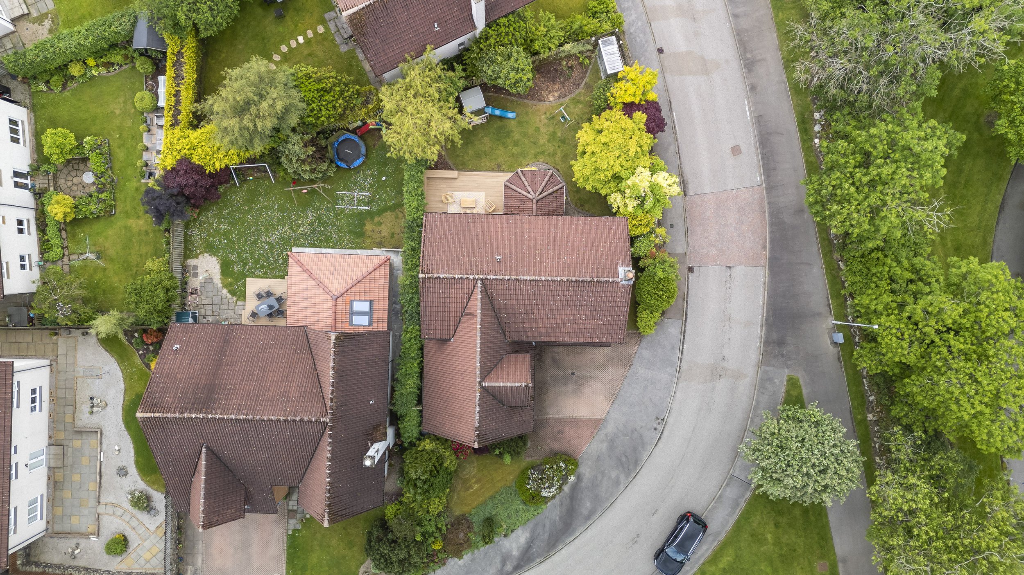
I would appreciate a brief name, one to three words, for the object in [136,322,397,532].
house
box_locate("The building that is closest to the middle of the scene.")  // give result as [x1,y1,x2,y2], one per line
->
[416,168,634,447]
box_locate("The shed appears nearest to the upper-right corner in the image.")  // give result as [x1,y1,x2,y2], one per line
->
[591,39,623,86]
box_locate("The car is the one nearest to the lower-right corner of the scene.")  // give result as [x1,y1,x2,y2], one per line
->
[657,510,709,575]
